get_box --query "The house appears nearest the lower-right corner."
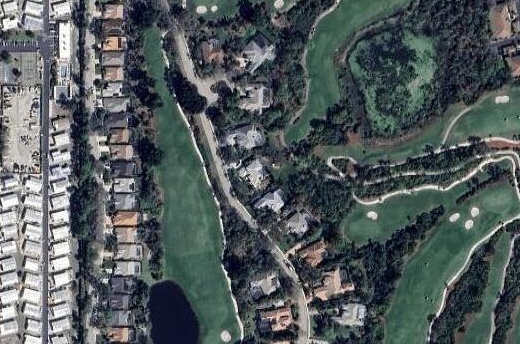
[337,304,369,329]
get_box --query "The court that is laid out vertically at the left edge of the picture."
[20,52,35,86]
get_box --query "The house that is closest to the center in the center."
[243,153,278,191]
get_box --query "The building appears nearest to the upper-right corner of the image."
[490,5,511,38]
